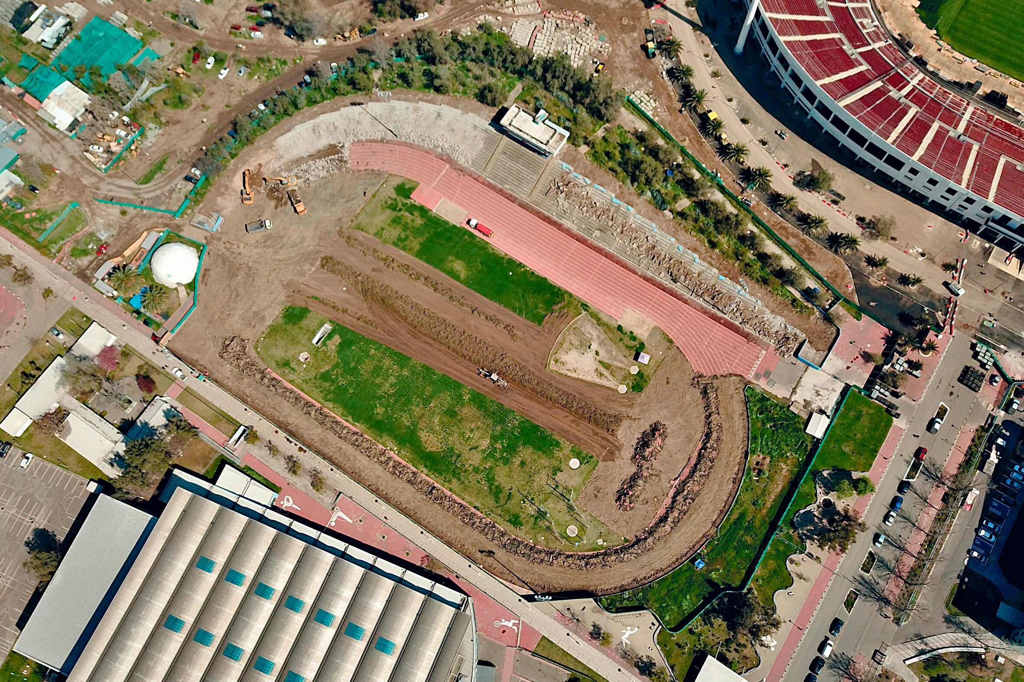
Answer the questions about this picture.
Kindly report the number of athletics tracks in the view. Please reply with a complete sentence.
In total, 1 athletics track can be seen.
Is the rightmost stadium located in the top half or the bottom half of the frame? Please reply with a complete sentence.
The rightmost stadium sits in the top half of the picture.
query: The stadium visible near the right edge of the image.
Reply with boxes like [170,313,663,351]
[728,0,1024,248]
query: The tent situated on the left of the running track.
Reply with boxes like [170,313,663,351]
[153,245,198,293]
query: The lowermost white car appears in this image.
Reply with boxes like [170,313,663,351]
[822,639,834,659]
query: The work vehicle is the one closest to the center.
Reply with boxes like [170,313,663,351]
[478,369,511,391]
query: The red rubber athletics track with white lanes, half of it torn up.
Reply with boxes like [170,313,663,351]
[266,137,778,553]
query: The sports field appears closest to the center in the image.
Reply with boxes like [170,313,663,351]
[257,174,674,552]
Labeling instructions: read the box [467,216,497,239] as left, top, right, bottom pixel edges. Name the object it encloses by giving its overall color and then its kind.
red truck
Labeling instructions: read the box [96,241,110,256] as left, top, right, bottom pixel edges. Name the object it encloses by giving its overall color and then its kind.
red work vehicle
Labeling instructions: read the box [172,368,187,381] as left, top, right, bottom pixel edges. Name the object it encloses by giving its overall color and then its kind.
white vehicle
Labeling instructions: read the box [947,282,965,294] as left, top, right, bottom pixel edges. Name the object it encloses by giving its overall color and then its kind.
white vehicle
